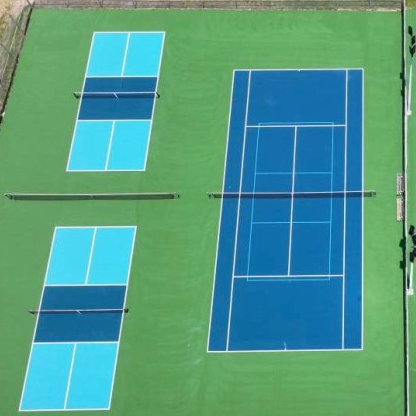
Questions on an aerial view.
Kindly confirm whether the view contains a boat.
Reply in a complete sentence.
No, there's no boat here.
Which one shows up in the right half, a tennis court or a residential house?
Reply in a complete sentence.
The one visible in the right half is a tennis court.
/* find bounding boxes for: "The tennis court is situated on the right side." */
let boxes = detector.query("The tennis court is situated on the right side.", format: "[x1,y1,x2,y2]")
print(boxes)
[207,69,363,352]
